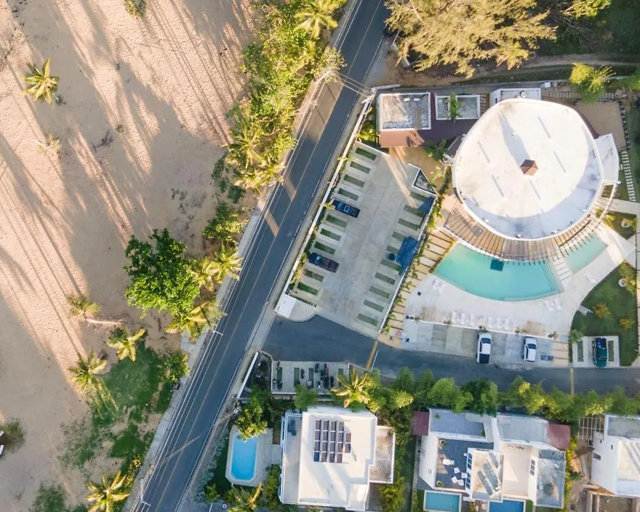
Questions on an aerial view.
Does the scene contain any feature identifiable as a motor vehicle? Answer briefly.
Yes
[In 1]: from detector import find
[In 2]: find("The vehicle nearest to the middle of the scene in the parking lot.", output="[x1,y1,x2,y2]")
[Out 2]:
[307,251,340,273]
